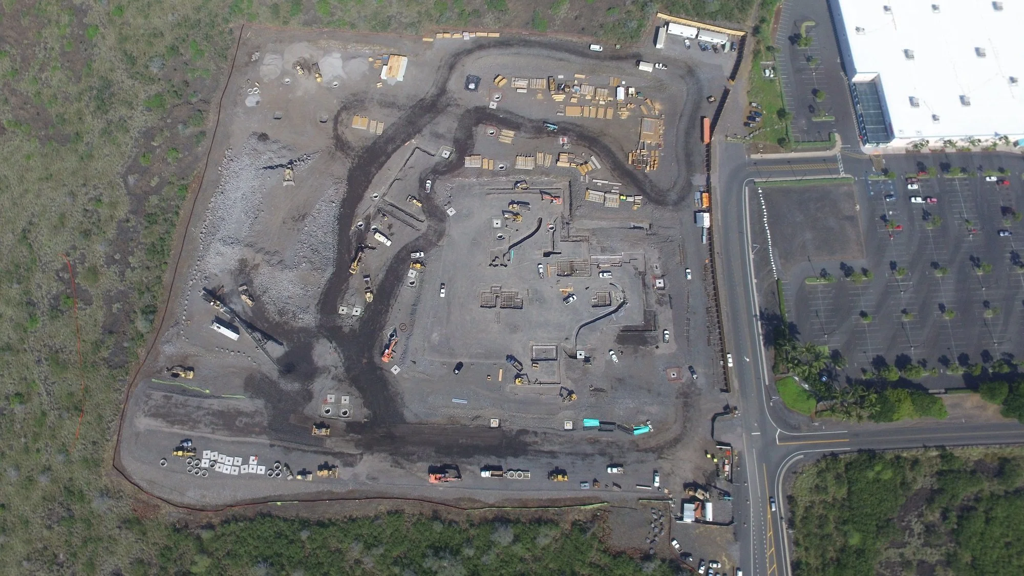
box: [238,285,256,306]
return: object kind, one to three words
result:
work vehicle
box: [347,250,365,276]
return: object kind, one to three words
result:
work vehicle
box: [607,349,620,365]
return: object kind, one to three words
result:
vehicle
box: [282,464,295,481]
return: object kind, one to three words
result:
vehicle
